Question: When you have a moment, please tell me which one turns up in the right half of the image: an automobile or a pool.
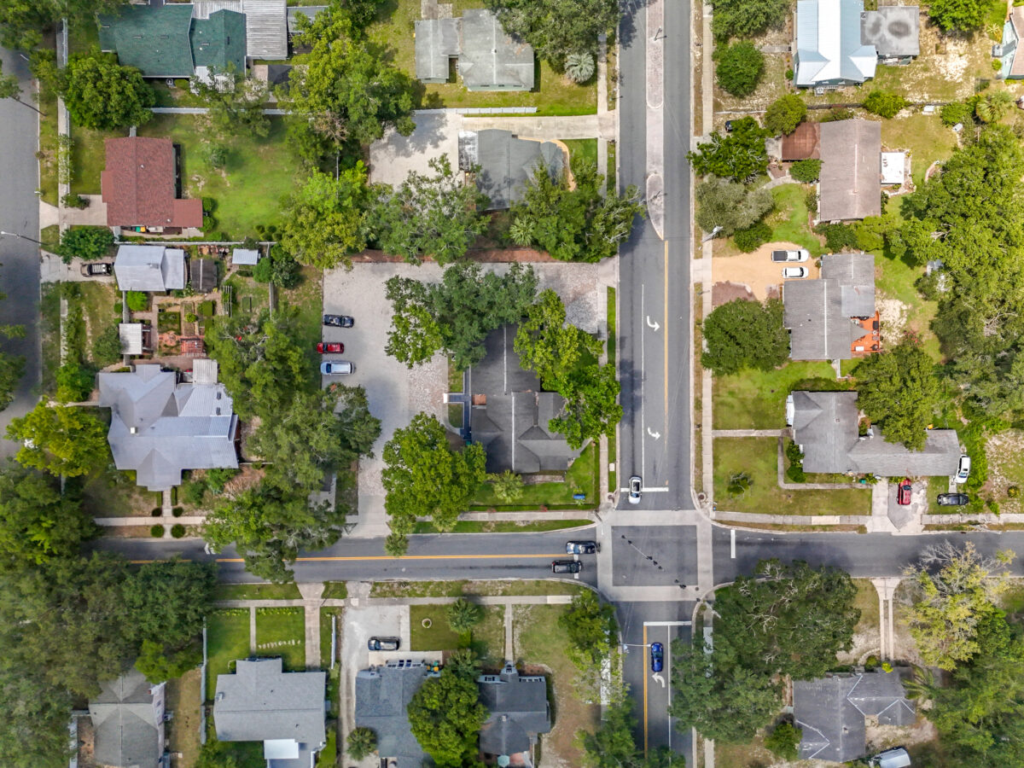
automobile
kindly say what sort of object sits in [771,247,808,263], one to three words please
vehicle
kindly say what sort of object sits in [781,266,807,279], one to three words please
vehicle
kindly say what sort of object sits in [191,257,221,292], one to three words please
shed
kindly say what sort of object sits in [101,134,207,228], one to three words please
house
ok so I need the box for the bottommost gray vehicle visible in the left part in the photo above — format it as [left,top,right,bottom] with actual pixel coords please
[369,635,400,651]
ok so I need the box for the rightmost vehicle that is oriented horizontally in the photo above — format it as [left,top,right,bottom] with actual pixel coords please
[935,492,966,507]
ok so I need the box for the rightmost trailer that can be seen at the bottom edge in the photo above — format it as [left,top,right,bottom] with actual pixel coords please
[865,744,911,768]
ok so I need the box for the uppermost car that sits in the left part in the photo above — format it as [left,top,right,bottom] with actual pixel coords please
[83,262,114,276]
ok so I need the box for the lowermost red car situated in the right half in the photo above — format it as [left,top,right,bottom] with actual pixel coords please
[895,478,913,504]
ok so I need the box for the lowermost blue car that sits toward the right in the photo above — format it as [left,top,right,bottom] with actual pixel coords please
[650,642,664,671]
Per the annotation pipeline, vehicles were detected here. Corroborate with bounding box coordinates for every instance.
[628,475,642,503]
[566,539,597,555]
[935,492,966,507]
[952,455,973,482]
[650,642,664,671]
[321,360,353,375]
[552,559,581,574]
[369,635,400,651]
[324,314,354,328]
[771,247,808,263]
[83,262,114,276]
[318,341,345,354]
[206,542,223,556]
[781,266,807,279]
[895,478,913,504]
